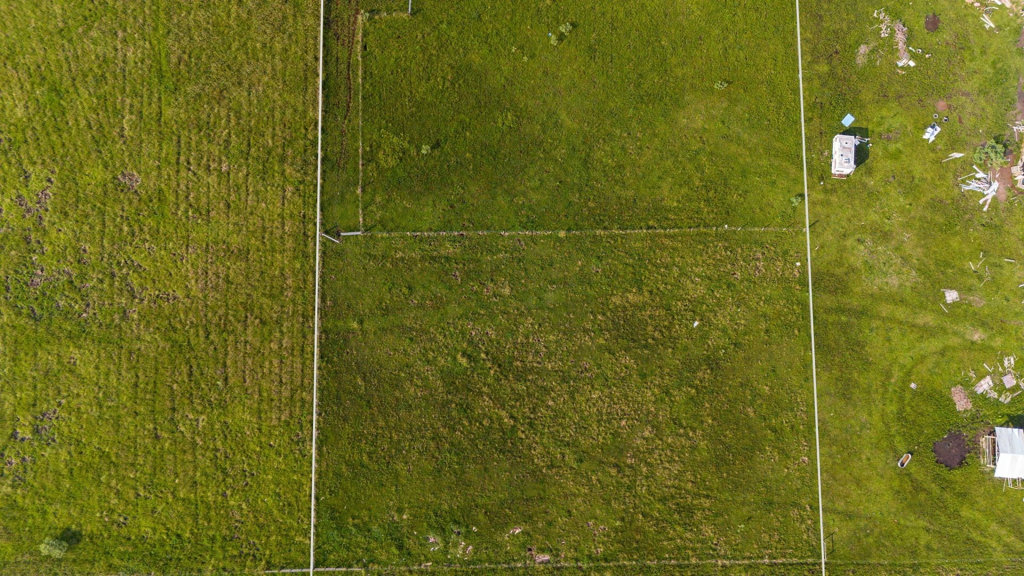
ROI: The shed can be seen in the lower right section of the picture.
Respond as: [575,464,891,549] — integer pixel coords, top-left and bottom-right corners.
[980,428,1024,478]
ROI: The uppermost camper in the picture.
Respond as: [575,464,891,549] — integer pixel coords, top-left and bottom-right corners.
[830,135,854,180]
